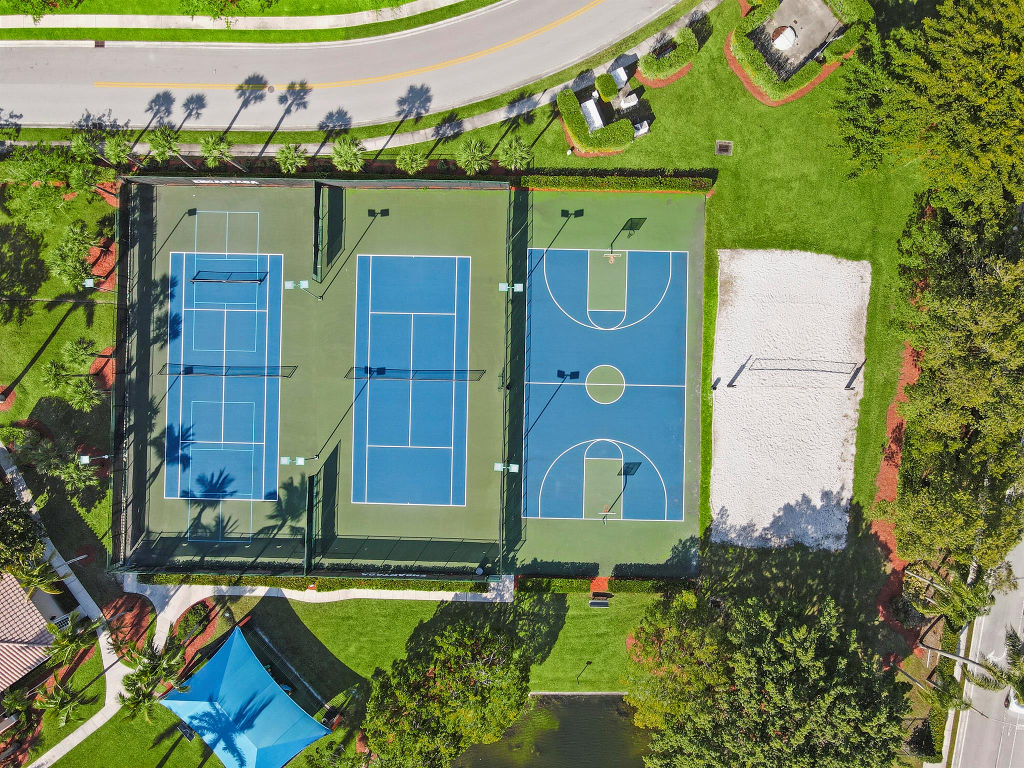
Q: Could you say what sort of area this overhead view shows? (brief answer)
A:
sports ground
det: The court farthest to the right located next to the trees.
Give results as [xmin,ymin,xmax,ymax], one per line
[708,248,872,550]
